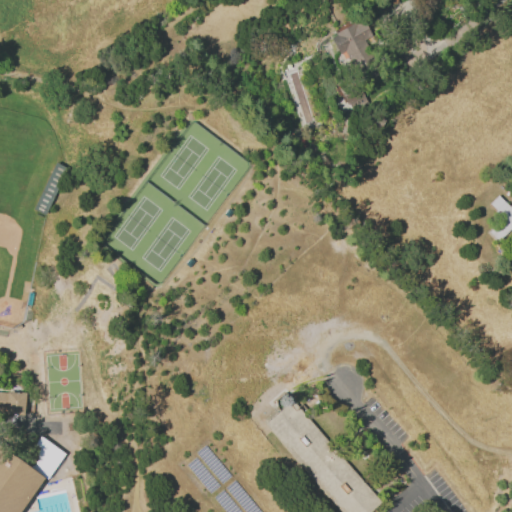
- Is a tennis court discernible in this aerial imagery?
Yes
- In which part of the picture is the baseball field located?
left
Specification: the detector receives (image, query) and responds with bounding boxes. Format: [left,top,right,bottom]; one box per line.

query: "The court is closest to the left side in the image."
[45,350,85,414]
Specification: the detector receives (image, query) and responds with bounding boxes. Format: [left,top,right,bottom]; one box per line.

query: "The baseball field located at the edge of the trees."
[0,109,63,328]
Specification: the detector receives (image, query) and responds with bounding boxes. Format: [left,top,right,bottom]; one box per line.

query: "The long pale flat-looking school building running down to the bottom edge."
[271,404,382,512]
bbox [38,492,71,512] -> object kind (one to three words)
swimming pool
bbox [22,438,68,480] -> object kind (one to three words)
building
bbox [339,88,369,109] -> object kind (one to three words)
house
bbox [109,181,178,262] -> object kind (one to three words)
tennis court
